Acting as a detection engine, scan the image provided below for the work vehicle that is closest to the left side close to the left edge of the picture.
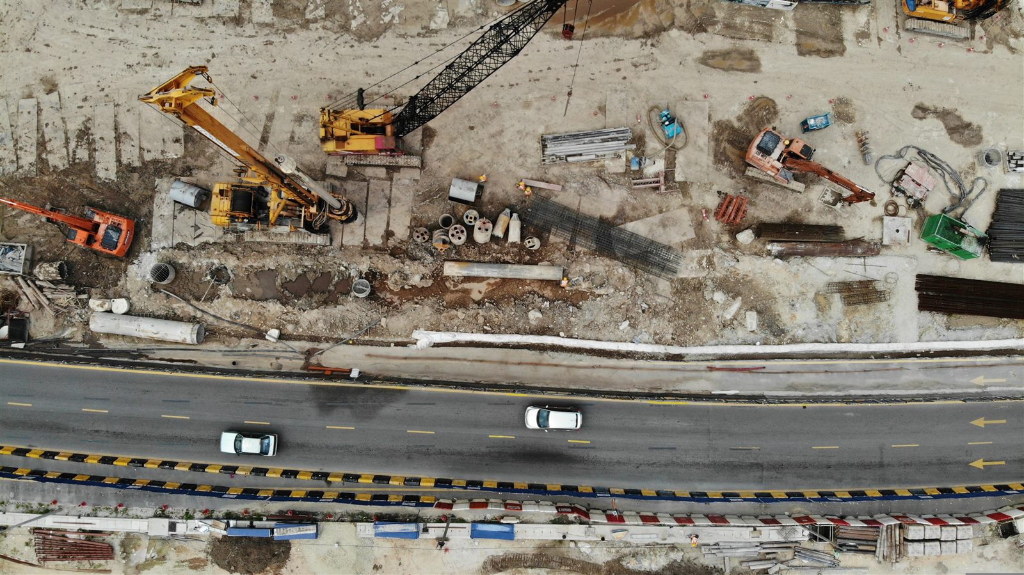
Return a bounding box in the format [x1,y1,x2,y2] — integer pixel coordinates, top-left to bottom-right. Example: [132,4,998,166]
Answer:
[0,196,143,260]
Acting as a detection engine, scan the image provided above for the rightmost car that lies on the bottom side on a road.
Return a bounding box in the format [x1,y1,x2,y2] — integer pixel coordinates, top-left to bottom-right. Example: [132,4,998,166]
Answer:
[524,404,583,433]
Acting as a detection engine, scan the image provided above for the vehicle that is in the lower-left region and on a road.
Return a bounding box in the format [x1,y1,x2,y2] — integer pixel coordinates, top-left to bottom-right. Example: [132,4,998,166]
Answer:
[218,431,277,459]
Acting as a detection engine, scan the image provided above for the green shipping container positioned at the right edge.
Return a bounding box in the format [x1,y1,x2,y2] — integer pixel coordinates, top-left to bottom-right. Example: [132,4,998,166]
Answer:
[921,213,987,259]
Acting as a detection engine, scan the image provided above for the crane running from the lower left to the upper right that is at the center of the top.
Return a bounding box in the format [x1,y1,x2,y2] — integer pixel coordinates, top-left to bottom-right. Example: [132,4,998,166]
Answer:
[319,0,591,171]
